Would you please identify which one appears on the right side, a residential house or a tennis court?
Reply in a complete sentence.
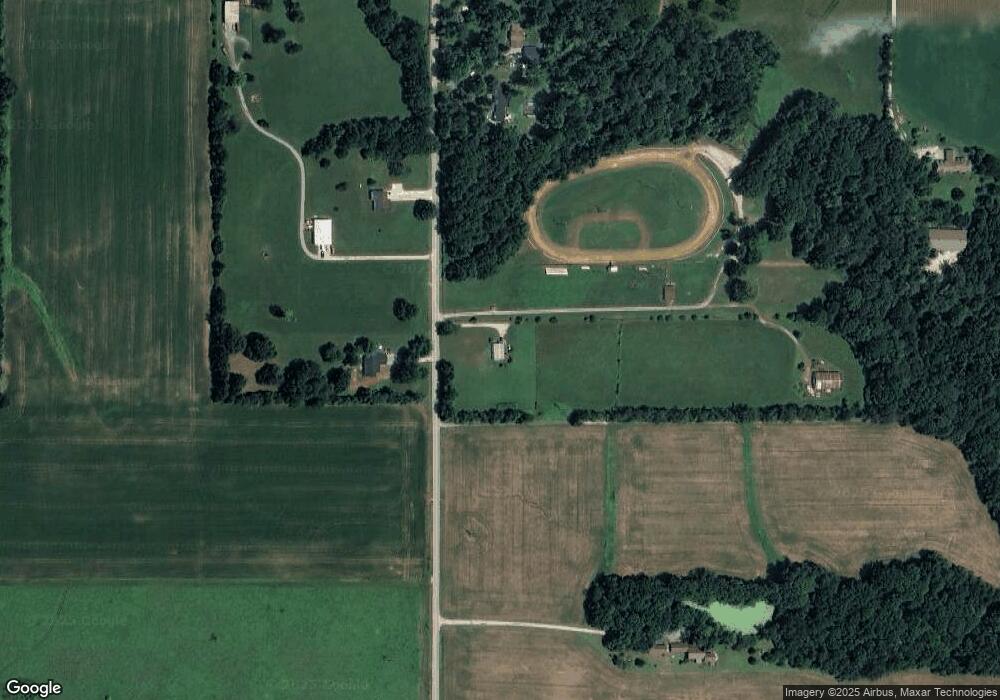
It is a residential house that can be seen on the right side.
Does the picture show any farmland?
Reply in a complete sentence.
Yes, some farmland is visible.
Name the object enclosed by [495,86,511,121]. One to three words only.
house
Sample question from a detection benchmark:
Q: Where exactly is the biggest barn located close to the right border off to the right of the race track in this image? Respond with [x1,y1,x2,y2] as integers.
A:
[930,229,969,252]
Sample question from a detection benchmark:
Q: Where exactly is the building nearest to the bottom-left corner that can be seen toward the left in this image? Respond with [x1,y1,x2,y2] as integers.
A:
[364,350,386,376]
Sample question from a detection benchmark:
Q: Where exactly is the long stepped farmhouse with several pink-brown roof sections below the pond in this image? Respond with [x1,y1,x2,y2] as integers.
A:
[656,642,718,663]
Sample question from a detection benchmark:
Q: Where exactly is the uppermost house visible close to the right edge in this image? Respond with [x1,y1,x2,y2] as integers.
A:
[939,149,972,173]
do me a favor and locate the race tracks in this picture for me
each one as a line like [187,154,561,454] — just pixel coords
[525,147,721,265]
